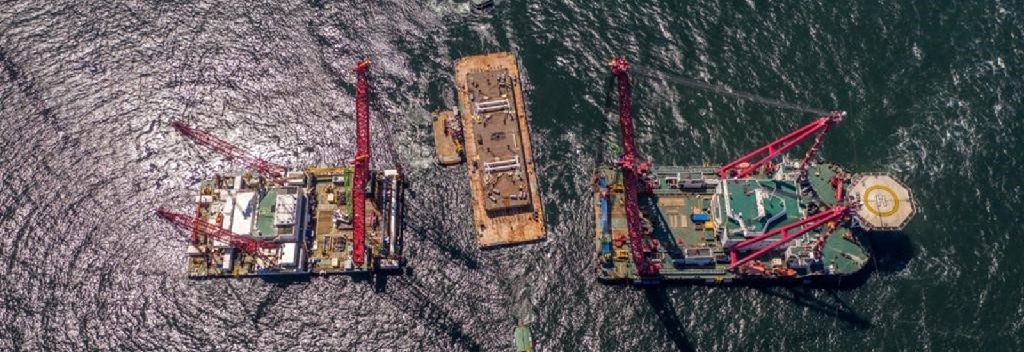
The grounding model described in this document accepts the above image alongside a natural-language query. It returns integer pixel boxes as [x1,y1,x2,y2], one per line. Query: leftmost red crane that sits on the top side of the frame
[169,55,402,193]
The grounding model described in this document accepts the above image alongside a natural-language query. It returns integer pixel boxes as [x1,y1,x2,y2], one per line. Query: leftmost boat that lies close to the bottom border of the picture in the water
[512,325,535,352]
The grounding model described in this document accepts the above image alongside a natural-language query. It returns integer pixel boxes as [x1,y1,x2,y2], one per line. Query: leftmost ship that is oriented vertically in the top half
[433,106,466,168]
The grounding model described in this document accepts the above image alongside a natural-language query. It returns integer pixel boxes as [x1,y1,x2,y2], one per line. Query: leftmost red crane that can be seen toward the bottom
[154,146,403,279]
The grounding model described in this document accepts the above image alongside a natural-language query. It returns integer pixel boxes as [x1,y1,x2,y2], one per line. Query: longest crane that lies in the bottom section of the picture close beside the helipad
[592,157,852,283]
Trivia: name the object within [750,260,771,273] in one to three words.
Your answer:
boat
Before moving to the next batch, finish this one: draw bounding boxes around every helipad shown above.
[830,171,917,235]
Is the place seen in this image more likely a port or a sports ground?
port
